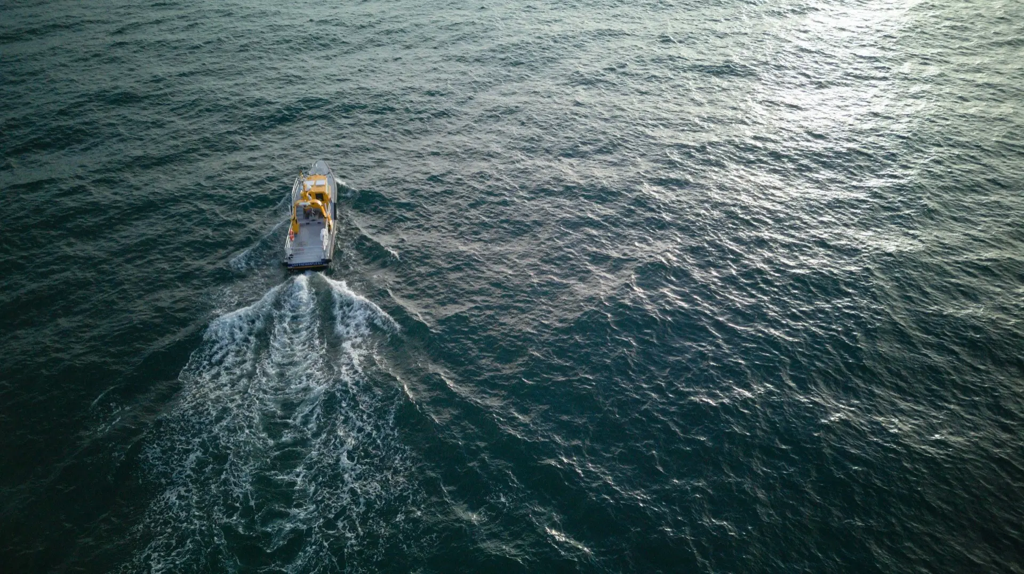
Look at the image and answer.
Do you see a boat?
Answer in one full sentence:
Yes, the image includes a boat.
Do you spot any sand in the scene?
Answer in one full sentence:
No, the picture contains no sand.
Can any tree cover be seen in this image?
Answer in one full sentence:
No, the scene doesn't show any tree cover.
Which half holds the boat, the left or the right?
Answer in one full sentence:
The boat sits on the left side.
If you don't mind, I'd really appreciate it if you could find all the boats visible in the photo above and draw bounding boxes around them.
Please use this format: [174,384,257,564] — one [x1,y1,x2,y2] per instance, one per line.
[281,161,339,272]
